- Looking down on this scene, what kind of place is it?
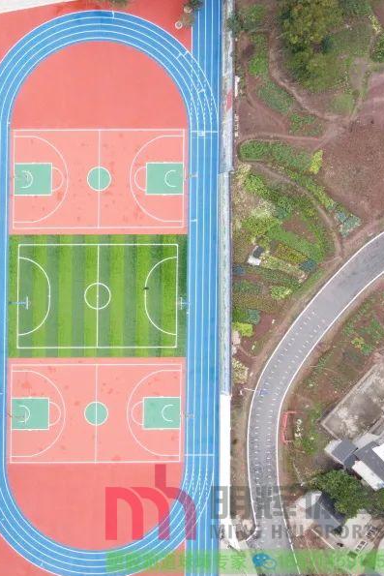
sports ground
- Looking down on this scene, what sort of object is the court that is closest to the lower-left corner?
basketball court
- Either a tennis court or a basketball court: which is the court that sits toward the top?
basketball court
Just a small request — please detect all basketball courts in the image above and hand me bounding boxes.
[6,357,186,464]
[8,128,188,235]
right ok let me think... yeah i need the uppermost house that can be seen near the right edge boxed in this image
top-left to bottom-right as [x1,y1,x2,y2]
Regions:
[319,350,384,441]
